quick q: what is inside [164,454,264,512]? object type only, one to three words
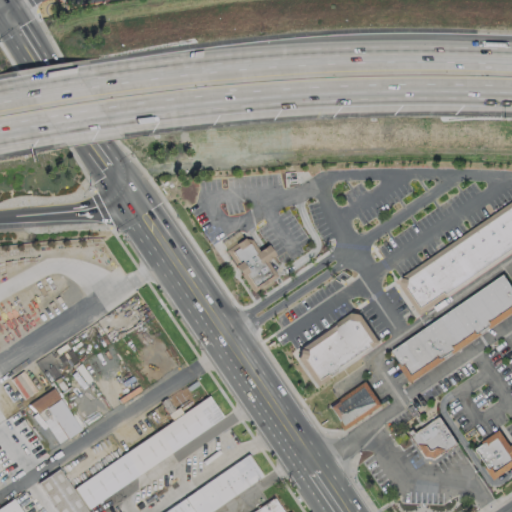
building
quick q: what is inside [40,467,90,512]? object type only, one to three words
building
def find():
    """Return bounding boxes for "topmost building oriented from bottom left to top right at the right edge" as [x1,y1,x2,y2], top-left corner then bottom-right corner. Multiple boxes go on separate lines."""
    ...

[402,204,512,312]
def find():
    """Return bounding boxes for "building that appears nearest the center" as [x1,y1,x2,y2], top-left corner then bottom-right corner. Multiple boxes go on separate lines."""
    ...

[228,238,280,292]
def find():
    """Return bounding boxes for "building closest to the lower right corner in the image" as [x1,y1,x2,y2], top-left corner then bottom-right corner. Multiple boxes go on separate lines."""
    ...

[475,430,512,480]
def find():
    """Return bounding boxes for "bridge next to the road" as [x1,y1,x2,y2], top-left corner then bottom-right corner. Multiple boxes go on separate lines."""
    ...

[8,57,136,153]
